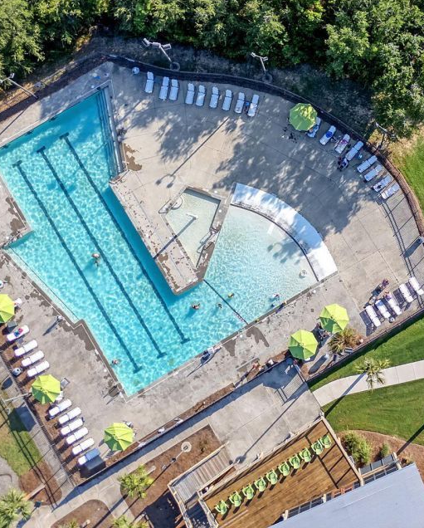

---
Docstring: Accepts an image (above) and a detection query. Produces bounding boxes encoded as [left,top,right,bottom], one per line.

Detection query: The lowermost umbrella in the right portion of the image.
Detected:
[287,329,318,359]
